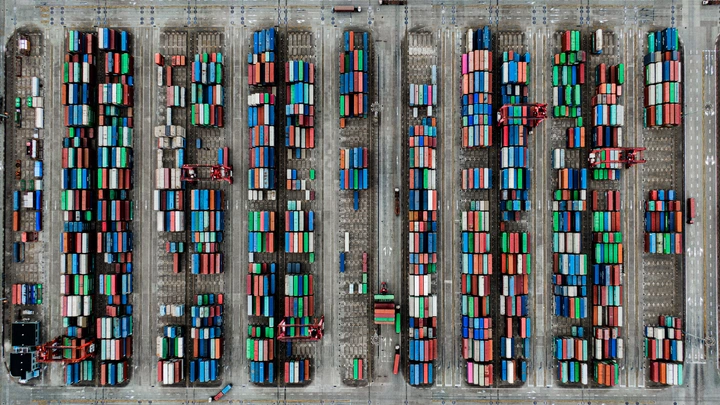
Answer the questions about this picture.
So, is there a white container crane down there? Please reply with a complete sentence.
No, I can see no white container crane in this picture.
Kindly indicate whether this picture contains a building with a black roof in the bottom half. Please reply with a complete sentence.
Yes, a building with a black roof is visible in the bottom half.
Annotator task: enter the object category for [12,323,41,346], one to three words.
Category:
building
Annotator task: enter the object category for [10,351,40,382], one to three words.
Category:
building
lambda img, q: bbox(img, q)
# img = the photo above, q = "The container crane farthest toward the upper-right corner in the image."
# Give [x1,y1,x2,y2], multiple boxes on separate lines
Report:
[586,146,649,172]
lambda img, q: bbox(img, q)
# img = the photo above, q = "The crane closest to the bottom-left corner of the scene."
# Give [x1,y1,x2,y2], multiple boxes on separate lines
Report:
[33,330,101,364]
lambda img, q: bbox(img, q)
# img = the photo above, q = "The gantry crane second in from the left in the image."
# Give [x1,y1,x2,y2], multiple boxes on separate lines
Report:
[178,162,232,188]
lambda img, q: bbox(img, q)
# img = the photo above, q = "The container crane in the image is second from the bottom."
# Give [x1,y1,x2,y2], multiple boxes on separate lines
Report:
[278,309,326,340]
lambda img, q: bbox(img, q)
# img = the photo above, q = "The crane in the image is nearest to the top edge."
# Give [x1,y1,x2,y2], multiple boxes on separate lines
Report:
[494,101,551,131]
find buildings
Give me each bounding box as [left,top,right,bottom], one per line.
[10,351,40,382]
[12,323,41,346]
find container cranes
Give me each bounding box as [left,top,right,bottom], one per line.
[33,330,101,364]
[494,101,551,131]
[178,162,232,188]
[278,309,326,340]
[586,146,649,172]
